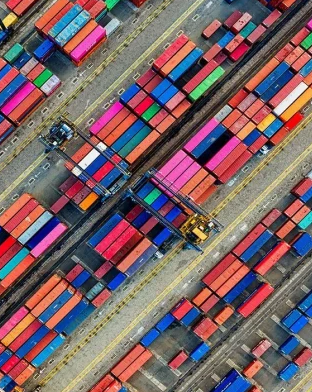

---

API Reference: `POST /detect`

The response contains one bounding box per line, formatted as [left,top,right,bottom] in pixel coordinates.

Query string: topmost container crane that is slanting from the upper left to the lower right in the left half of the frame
[37,112,133,198]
